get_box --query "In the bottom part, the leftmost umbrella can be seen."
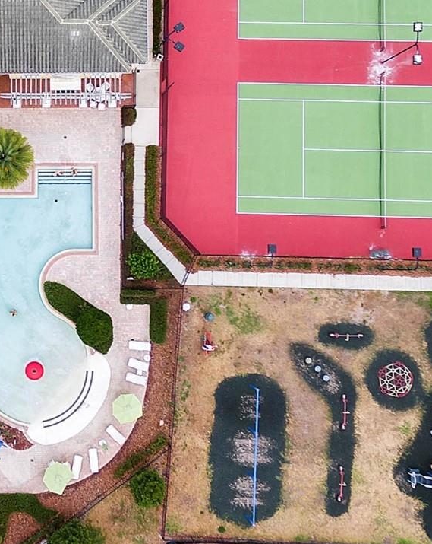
[43,462,71,491]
